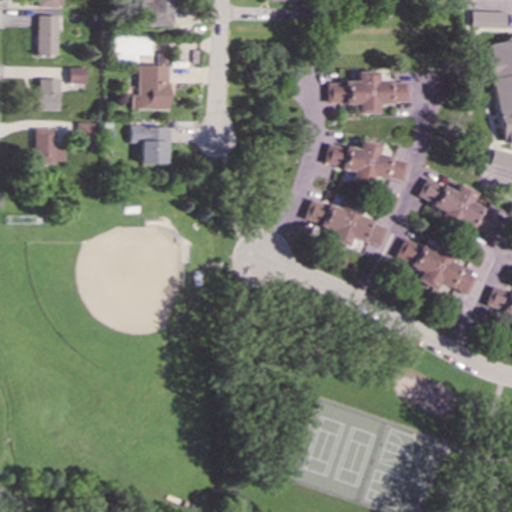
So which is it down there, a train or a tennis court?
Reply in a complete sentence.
There is a tennis court in the scene.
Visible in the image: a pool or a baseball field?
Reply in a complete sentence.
The one in the frame is a baseball field.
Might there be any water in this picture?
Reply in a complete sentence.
No, the scene doesn't show any water.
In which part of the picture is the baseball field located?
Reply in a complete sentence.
You can find the baseball field in the left area of the picture.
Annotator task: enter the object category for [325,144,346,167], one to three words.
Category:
building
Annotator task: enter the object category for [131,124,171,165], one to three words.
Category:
house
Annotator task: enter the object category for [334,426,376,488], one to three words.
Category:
tennis court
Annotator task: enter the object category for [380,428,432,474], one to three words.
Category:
basketball court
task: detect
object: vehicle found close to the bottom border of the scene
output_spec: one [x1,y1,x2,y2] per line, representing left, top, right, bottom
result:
[166,495,190,508]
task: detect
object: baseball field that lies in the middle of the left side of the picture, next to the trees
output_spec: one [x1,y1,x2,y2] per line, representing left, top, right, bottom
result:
[26,216,192,374]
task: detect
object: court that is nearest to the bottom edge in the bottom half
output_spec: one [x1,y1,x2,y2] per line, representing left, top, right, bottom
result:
[366,469,416,512]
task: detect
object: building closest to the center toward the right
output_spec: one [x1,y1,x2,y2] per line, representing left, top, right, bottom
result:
[304,200,328,224]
